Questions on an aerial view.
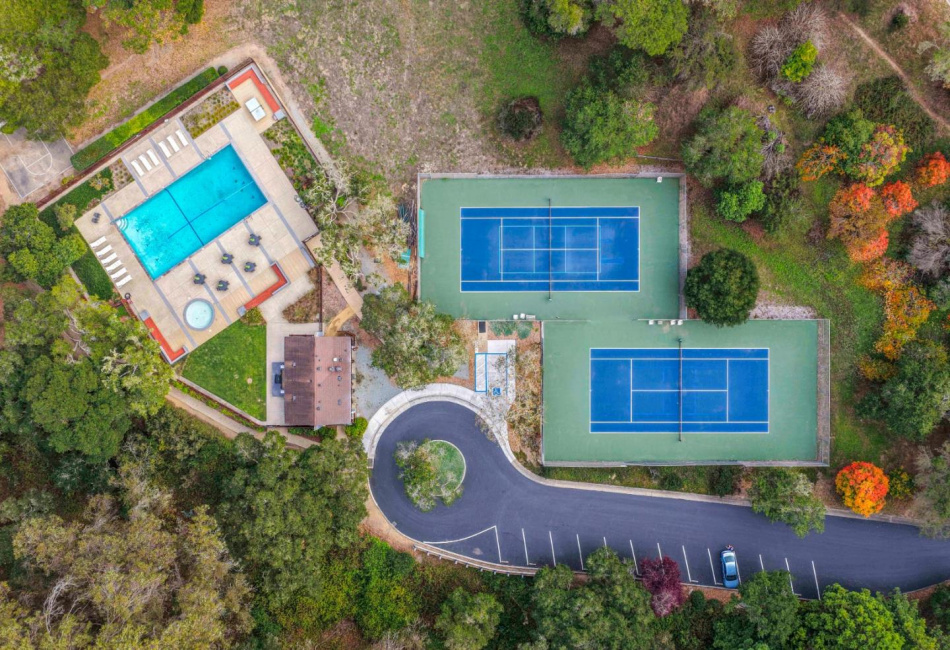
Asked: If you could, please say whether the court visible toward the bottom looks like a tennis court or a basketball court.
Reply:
tennis court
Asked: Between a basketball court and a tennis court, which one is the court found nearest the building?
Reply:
tennis court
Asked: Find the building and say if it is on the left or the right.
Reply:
left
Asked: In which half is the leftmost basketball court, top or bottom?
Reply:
top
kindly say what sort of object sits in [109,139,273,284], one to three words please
swimming pool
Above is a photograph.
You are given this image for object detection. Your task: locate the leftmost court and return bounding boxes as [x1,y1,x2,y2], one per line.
[0,106,73,198]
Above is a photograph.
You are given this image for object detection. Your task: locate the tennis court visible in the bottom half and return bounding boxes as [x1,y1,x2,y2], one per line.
[545,320,818,463]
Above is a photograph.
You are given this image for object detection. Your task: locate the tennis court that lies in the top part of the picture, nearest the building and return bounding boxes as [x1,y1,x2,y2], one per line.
[421,178,681,320]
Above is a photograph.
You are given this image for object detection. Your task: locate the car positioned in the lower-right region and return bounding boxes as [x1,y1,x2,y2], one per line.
[723,552,742,591]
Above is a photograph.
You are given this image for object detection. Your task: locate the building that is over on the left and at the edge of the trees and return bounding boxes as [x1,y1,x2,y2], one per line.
[284,333,352,429]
